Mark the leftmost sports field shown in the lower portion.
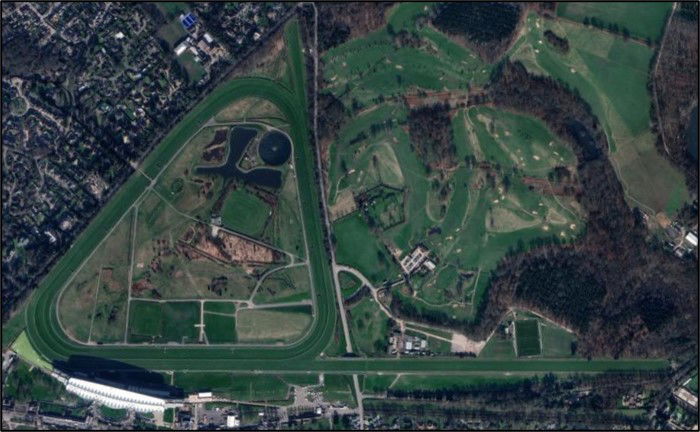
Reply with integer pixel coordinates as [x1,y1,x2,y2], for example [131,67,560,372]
[128,301,199,343]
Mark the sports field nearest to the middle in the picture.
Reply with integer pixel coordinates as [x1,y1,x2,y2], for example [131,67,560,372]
[220,189,271,236]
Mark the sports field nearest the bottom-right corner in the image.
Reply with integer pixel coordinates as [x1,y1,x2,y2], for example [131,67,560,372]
[517,320,542,356]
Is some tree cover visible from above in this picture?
Yes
